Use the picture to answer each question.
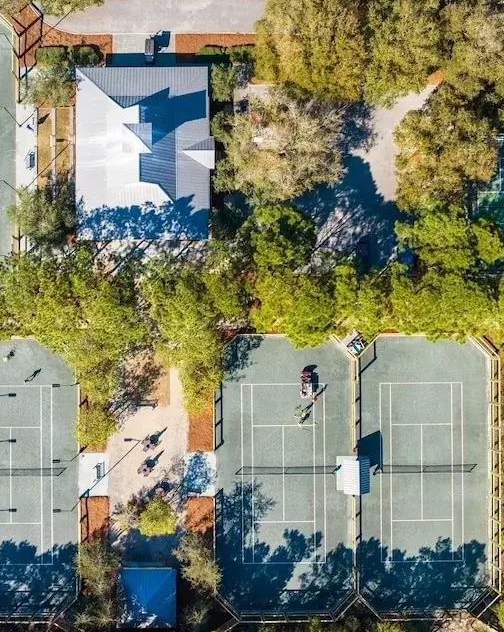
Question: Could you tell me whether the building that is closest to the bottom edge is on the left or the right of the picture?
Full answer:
It is on the left.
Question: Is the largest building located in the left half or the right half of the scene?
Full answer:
The largest building appears in the left half of the scene.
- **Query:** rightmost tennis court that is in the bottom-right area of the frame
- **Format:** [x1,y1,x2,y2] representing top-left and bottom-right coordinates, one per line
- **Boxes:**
[354,337,489,610]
